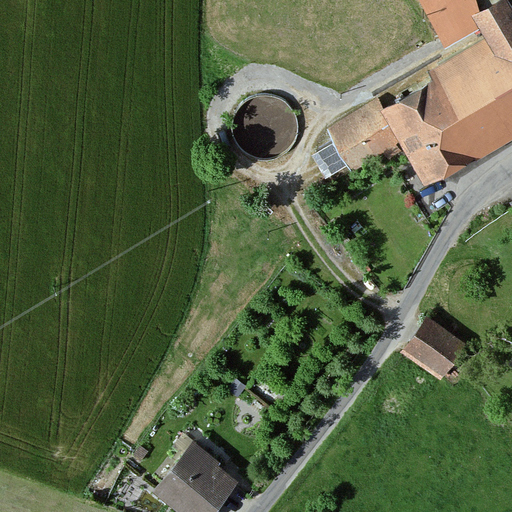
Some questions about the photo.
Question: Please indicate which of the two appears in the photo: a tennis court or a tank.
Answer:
tank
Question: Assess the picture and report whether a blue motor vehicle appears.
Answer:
Yes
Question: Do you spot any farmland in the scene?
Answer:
Yes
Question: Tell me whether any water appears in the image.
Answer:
No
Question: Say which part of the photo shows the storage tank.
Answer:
top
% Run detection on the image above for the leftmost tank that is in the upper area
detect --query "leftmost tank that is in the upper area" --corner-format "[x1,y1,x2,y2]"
[232,92,299,161]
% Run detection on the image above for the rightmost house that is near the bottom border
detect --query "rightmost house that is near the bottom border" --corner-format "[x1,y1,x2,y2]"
[153,430,238,512]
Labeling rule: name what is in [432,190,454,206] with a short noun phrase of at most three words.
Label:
car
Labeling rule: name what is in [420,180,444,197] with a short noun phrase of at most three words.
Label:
car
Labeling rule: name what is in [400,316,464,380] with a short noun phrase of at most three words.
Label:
barn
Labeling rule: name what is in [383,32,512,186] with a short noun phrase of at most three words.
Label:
house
